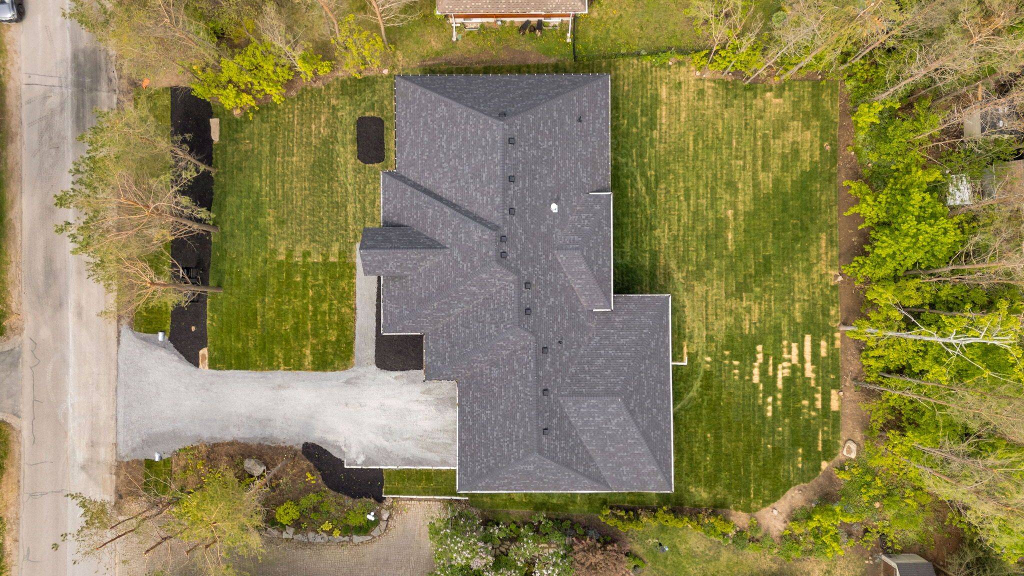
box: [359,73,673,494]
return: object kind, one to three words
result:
house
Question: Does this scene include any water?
No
